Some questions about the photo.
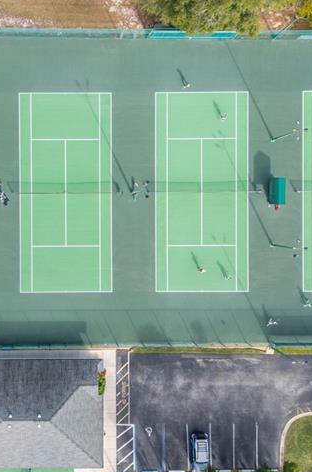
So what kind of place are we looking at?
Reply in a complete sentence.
This looks like a sports ground.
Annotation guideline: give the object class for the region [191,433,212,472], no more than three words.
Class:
car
